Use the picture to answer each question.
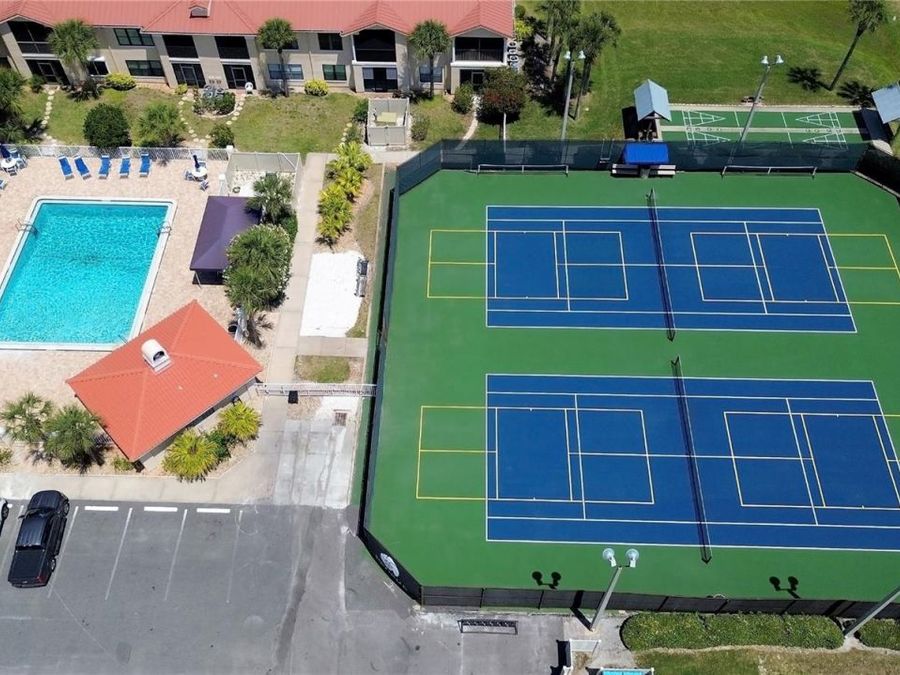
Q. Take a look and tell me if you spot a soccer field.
No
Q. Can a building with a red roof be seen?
Yes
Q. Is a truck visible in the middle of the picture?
No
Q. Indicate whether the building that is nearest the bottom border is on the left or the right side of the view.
left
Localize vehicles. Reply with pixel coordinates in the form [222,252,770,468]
[0,495,8,520]
[6,488,70,588]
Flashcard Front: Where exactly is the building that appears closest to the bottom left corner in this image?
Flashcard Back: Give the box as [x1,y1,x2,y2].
[67,299,263,468]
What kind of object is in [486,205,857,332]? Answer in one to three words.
tennis court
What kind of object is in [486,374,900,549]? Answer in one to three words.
tennis court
